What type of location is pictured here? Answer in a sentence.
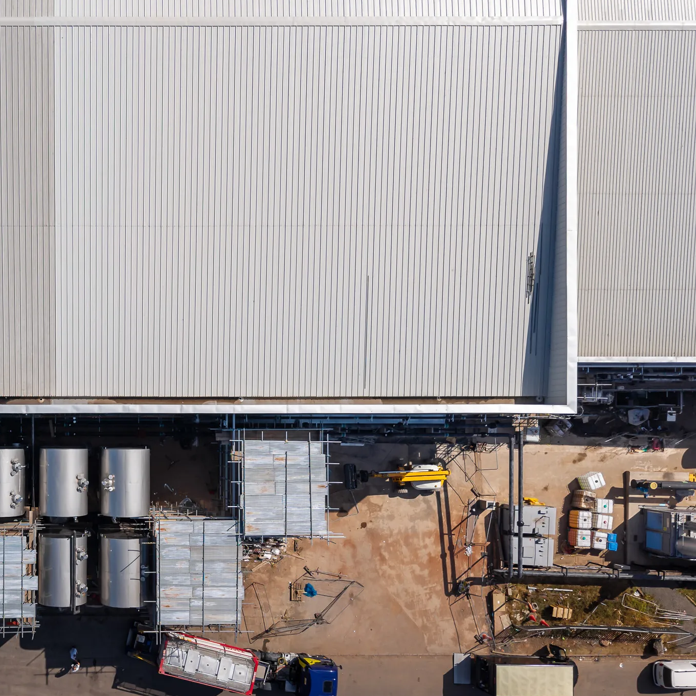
The area seen from above is an industrial area.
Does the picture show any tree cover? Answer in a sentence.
No, tree cover can't be seen anywhere here.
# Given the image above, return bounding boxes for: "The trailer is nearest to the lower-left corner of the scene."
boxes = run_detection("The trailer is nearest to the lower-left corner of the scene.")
[129,614,267,695]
